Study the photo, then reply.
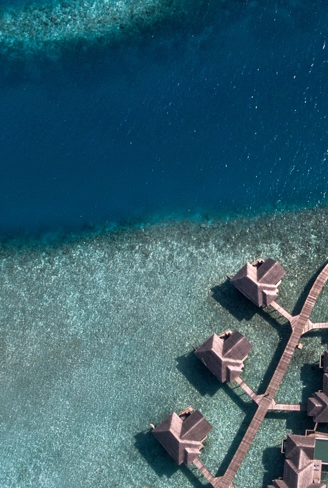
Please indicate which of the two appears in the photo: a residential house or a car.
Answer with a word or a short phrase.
residential house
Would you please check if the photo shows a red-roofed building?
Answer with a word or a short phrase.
No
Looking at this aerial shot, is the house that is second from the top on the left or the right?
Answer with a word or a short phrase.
right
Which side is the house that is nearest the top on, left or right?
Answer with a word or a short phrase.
right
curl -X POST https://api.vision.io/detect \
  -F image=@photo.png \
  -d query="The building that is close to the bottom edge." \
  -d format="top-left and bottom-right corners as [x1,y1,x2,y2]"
[152,404,214,472]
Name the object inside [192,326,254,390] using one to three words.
house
